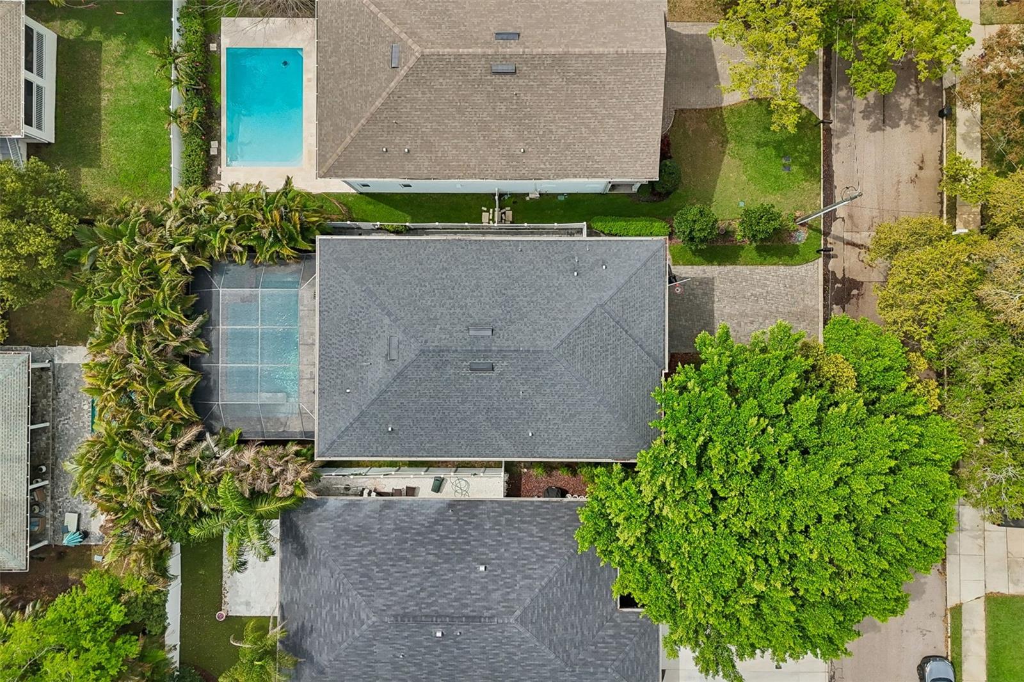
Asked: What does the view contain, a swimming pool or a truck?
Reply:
swimming pool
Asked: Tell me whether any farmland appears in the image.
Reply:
No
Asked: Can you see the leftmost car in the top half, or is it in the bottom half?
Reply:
bottom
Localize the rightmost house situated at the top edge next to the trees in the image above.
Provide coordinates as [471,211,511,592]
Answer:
[314,0,673,193]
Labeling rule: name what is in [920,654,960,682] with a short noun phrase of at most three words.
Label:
car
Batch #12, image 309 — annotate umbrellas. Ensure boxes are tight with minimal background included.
[60,529,89,548]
